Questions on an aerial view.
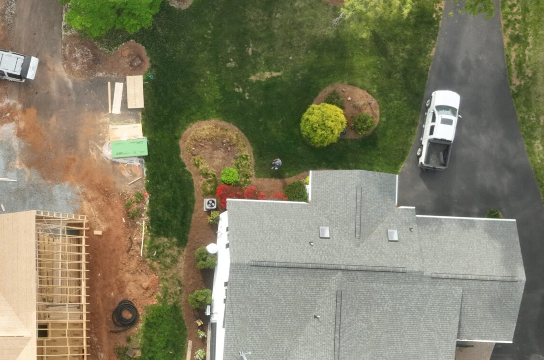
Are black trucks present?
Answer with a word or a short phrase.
No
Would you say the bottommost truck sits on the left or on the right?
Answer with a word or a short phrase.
right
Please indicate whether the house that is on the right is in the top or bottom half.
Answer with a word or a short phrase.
bottom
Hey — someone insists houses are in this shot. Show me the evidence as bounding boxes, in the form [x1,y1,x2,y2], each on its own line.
[192,169,525,360]
[0,210,89,360]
